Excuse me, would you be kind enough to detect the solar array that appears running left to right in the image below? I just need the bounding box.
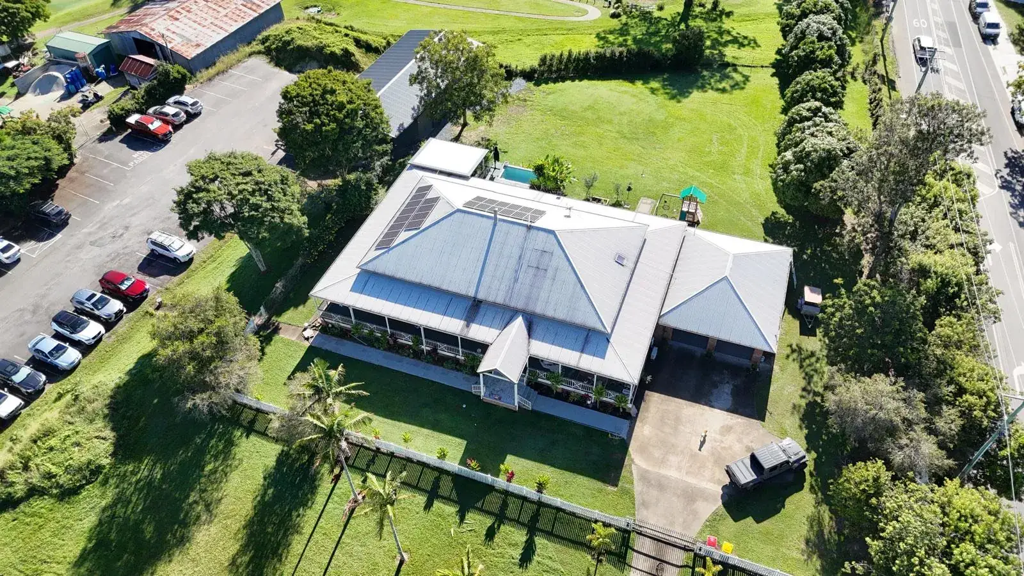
[460,197,545,223]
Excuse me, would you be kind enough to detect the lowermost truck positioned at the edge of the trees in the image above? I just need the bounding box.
[721,439,816,496]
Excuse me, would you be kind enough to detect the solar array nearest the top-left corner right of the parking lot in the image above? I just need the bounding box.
[373,185,442,251]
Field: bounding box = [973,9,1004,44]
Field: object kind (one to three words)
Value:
van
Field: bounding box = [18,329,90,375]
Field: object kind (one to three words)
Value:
car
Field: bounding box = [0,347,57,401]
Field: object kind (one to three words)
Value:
car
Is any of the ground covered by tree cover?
Yes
